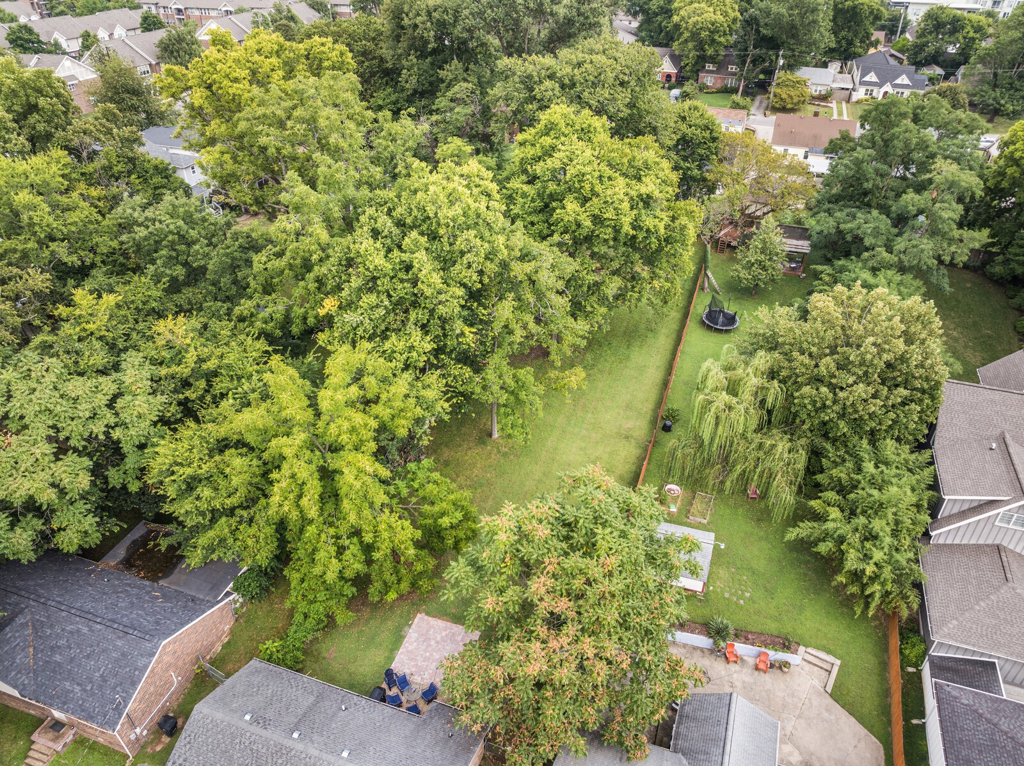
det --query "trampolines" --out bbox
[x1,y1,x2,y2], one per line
[703,297,747,344]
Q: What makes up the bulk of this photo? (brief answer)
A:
trees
